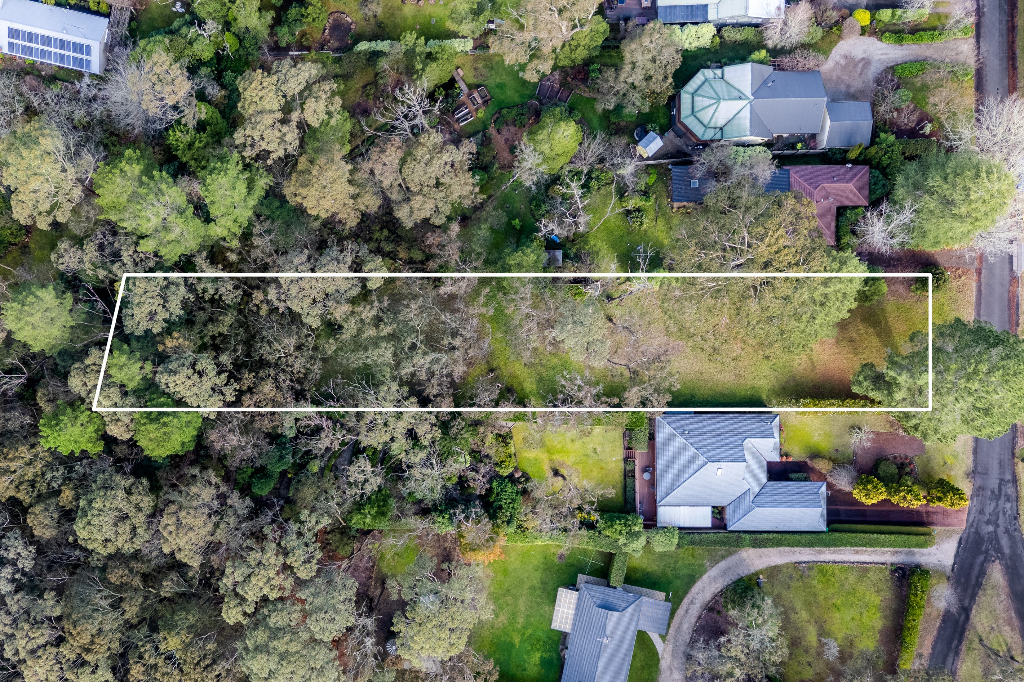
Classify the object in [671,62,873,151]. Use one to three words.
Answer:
house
